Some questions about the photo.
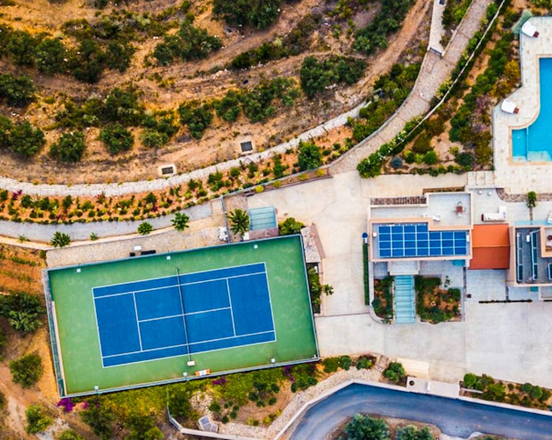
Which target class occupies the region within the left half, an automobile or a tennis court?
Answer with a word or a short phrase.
tennis court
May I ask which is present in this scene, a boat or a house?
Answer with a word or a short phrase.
house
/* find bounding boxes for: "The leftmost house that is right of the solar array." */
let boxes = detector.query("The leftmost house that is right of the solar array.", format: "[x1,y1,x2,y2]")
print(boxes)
[467,223,511,270]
